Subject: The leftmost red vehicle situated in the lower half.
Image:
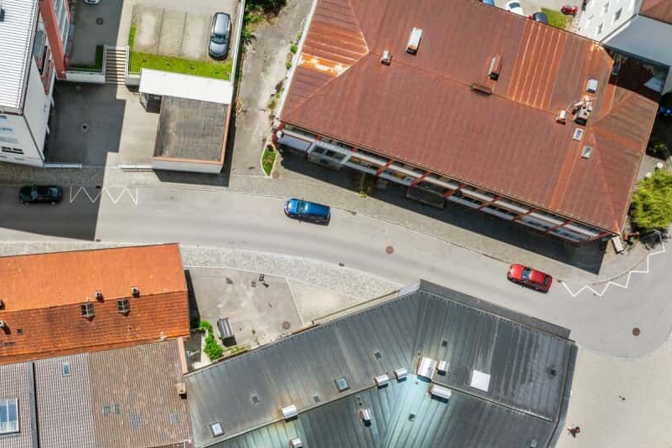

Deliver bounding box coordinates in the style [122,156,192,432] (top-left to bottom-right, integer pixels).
[503,265,551,291]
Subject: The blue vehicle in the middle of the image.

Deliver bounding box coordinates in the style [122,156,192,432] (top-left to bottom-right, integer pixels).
[284,199,330,224]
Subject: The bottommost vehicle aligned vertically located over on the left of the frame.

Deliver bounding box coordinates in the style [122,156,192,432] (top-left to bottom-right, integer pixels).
[208,13,231,64]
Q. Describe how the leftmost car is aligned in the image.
from side to side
